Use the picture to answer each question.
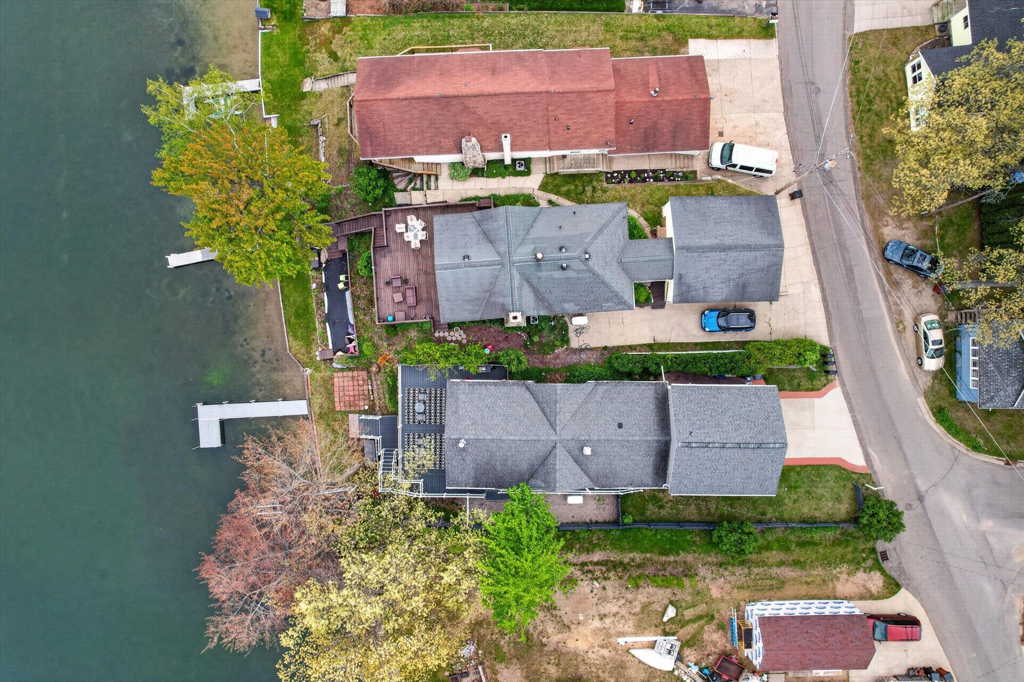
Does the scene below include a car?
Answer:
Yes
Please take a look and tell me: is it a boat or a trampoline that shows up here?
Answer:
boat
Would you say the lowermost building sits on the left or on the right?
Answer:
right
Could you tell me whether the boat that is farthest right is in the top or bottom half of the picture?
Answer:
bottom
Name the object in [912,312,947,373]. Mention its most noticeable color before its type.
white car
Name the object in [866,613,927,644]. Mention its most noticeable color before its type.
red car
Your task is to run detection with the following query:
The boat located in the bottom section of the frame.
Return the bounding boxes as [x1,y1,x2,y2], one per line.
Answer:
[629,648,676,673]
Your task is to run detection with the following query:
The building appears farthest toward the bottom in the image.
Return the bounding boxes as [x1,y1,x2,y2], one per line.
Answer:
[745,600,876,670]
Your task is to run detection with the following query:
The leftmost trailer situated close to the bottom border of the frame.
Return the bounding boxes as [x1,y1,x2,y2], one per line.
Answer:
[715,653,750,682]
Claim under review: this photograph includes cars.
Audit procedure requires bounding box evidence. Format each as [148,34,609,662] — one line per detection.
[866,613,927,644]
[878,240,945,279]
[912,312,947,373]
[700,306,756,334]
[707,139,781,177]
